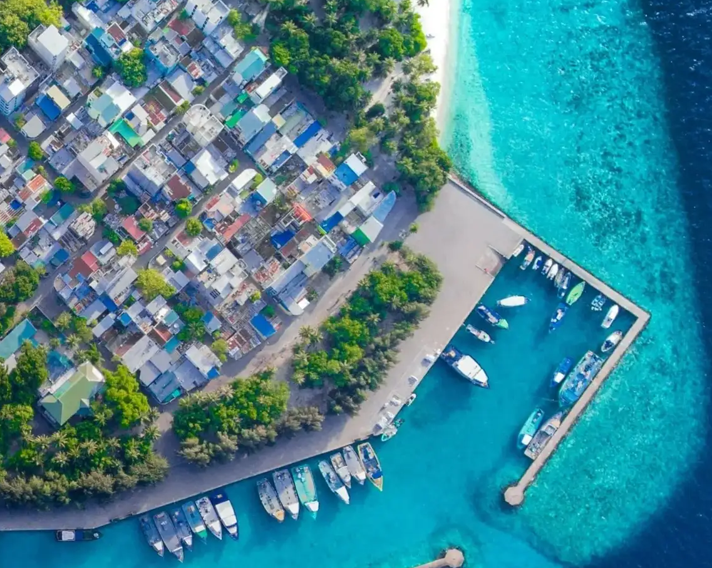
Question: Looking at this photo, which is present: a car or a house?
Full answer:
There is a house in the scene.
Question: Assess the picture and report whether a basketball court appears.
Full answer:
No, there is no basketball court in the image.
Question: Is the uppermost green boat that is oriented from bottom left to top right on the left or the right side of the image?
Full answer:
You can find the uppermost green boat that is oriented from bottom left to top right on the right side of the picture.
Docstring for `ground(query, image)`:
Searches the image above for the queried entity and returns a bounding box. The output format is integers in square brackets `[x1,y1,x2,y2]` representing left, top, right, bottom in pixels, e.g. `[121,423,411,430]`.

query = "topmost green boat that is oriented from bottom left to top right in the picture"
[565,281,588,308]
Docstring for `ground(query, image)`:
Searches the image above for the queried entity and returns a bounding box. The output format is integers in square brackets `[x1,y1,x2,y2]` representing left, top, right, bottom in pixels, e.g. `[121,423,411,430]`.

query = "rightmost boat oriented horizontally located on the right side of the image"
[495,295,532,308]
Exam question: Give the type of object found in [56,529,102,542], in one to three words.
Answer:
boat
